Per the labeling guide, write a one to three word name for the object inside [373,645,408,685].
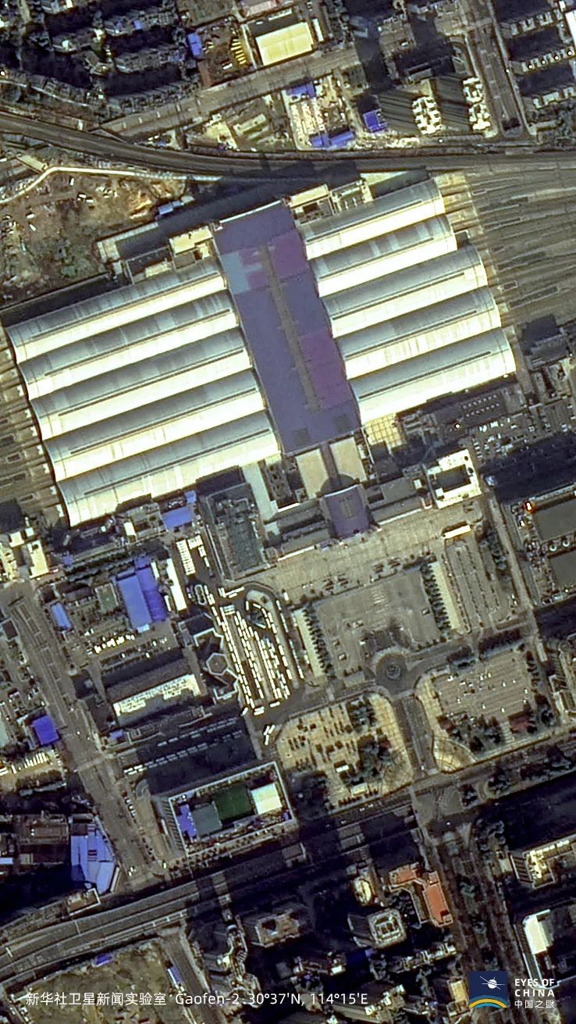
roundabout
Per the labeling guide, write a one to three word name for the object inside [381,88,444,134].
building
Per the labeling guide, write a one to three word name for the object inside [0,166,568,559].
train station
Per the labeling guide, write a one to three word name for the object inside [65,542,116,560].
shed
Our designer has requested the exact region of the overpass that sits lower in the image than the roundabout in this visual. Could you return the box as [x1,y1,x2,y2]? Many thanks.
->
[0,803,415,978]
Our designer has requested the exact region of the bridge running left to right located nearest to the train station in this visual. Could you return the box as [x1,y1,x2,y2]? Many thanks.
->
[0,113,576,170]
